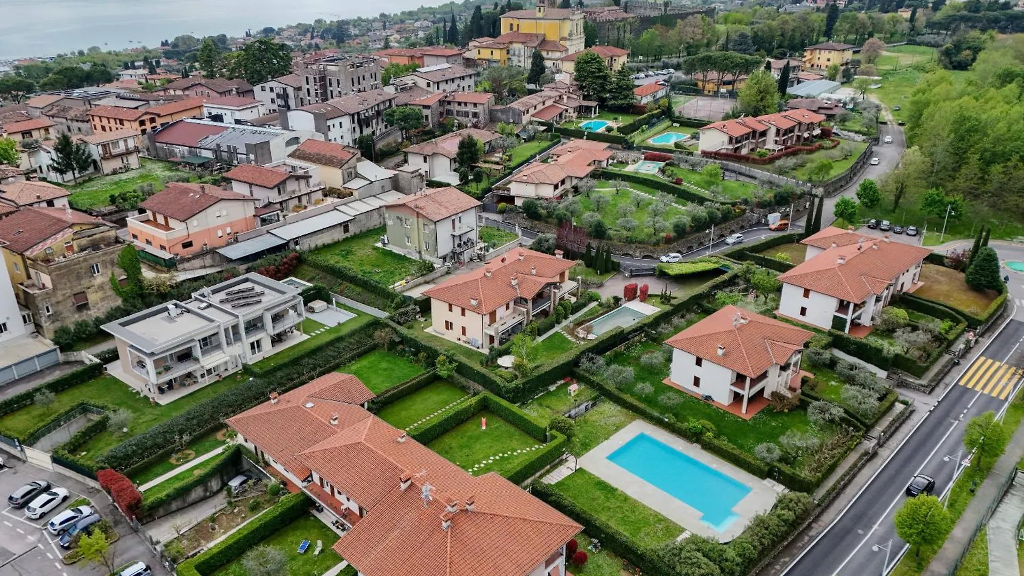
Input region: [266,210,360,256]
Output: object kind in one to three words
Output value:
shed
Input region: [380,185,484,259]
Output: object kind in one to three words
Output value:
house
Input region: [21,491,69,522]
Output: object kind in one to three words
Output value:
car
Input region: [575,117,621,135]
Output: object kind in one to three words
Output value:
swimming pool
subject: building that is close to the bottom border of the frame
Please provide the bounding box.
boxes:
[225,370,585,576]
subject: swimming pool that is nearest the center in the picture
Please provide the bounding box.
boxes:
[576,300,661,340]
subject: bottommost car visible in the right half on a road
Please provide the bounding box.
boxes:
[906,474,937,504]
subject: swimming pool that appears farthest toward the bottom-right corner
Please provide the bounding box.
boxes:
[580,424,779,540]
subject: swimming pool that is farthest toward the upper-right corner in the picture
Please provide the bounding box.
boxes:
[646,131,690,147]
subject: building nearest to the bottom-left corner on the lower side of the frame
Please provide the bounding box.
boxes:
[0,332,63,388]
